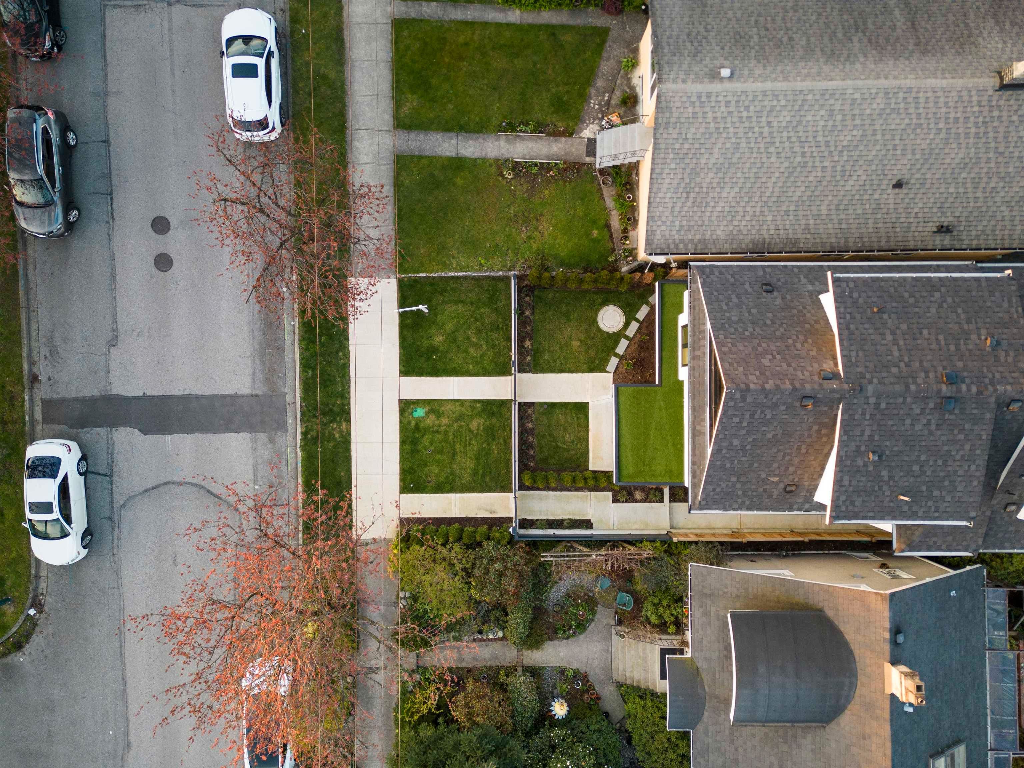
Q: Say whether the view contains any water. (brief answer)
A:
No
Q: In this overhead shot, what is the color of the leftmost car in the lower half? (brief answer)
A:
white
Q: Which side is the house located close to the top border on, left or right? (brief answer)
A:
right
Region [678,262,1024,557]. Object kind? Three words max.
house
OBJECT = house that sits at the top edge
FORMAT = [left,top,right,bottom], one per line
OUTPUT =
[638,0,1024,261]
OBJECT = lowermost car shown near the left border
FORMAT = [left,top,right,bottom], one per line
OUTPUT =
[17,439,97,569]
